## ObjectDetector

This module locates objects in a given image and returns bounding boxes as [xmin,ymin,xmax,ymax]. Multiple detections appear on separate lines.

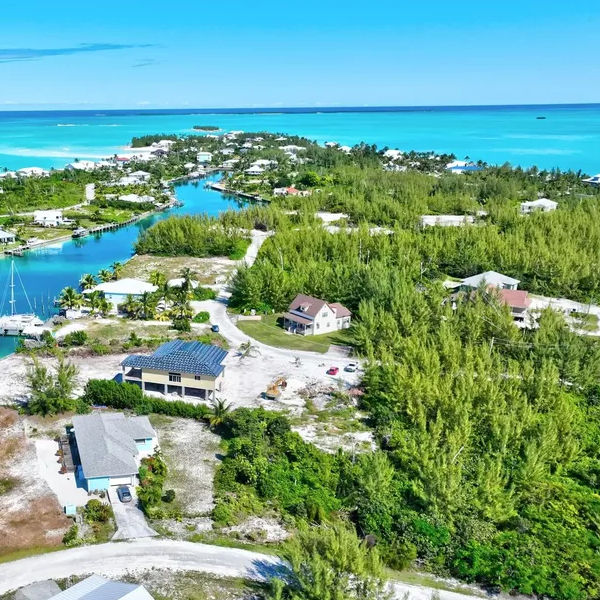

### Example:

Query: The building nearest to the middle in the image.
[278,294,354,336]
